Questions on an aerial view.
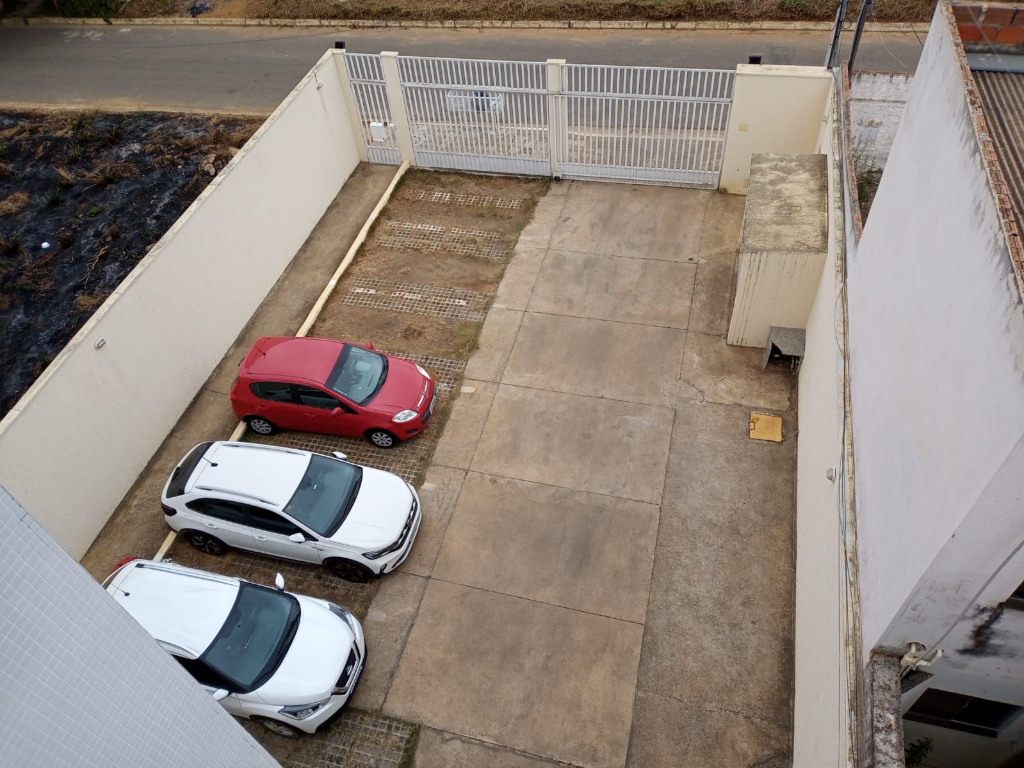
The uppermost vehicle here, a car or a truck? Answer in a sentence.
From above, the uppermost vehicle can be identified as a car.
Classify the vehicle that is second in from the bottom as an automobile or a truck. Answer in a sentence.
It looks like the vehicle that is second in from the bottom is an automobile.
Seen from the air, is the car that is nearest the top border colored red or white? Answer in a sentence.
The car that is nearest the top border looks red in the image.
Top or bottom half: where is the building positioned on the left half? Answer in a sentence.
Seen from above, the building positioned on the left half lies in the bottom half of the view.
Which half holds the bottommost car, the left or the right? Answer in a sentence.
It is on the left.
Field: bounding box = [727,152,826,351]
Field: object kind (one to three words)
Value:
shed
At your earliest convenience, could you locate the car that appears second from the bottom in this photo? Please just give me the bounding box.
[160,439,420,582]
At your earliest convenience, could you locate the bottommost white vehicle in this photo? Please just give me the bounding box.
[103,558,369,740]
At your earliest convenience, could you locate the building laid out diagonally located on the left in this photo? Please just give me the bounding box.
[0,484,280,768]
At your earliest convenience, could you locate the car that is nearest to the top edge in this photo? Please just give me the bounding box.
[225,333,440,447]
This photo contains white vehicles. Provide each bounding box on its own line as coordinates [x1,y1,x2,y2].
[103,558,369,740]
[160,439,420,582]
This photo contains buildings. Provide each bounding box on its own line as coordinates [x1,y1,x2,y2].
[846,6,1024,768]
[727,152,826,351]
[0,484,280,768]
